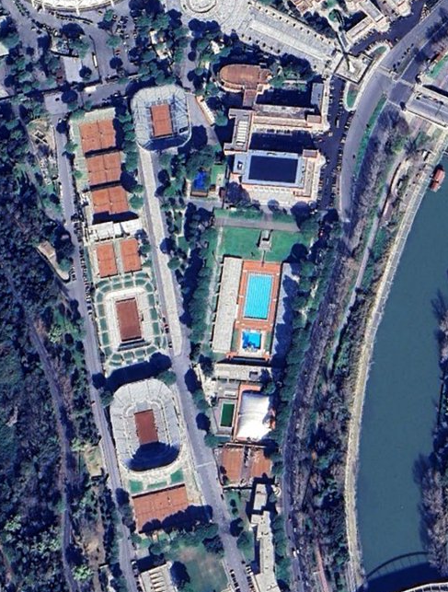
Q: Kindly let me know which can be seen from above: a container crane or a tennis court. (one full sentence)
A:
Looking from above, you can make out a tennis court.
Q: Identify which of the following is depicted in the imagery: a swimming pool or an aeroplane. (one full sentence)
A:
This aerial view contains a swimming pool.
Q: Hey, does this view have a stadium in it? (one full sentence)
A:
Yes, there's a stadium down there.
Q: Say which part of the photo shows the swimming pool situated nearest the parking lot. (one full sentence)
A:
You can find the swimming pool situated nearest the parking lot in the center area of the picture.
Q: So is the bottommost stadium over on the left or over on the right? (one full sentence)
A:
The bottommost stadium sits on the left side.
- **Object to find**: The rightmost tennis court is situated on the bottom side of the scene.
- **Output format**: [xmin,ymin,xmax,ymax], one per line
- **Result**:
[252,448,272,479]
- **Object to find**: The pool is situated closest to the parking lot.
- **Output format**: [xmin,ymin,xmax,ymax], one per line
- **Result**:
[229,261,282,361]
